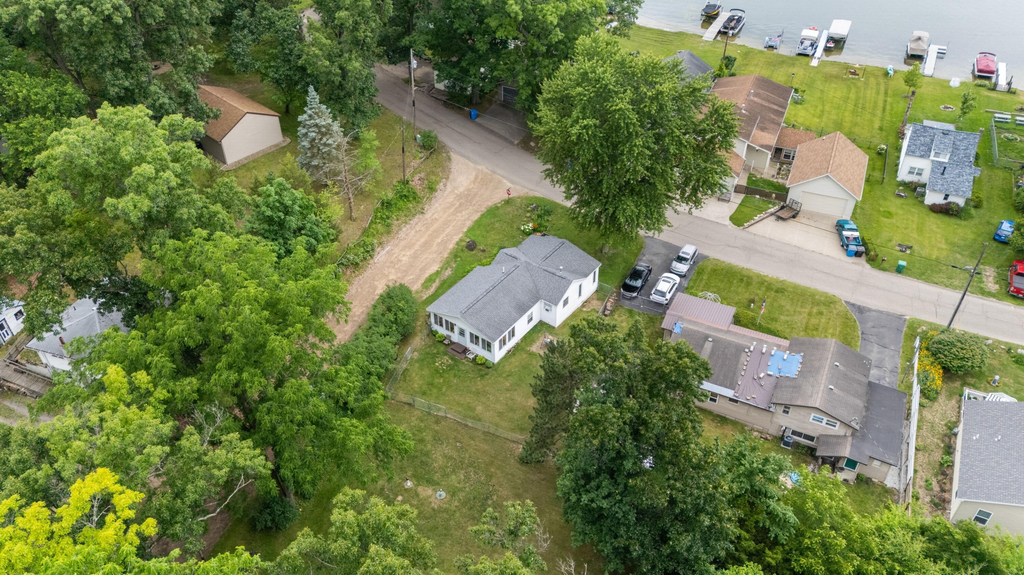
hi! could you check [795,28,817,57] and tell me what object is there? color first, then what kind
white boat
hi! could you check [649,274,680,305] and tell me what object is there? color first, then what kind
white car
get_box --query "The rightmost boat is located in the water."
[976,45,1000,77]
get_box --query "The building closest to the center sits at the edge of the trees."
[424,234,604,363]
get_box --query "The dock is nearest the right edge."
[994,63,1014,96]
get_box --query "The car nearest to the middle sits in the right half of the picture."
[621,262,653,296]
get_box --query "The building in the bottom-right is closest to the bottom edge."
[940,399,1024,542]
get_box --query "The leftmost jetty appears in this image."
[702,12,731,40]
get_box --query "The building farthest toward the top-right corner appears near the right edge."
[897,122,990,207]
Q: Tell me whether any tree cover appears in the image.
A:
Yes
